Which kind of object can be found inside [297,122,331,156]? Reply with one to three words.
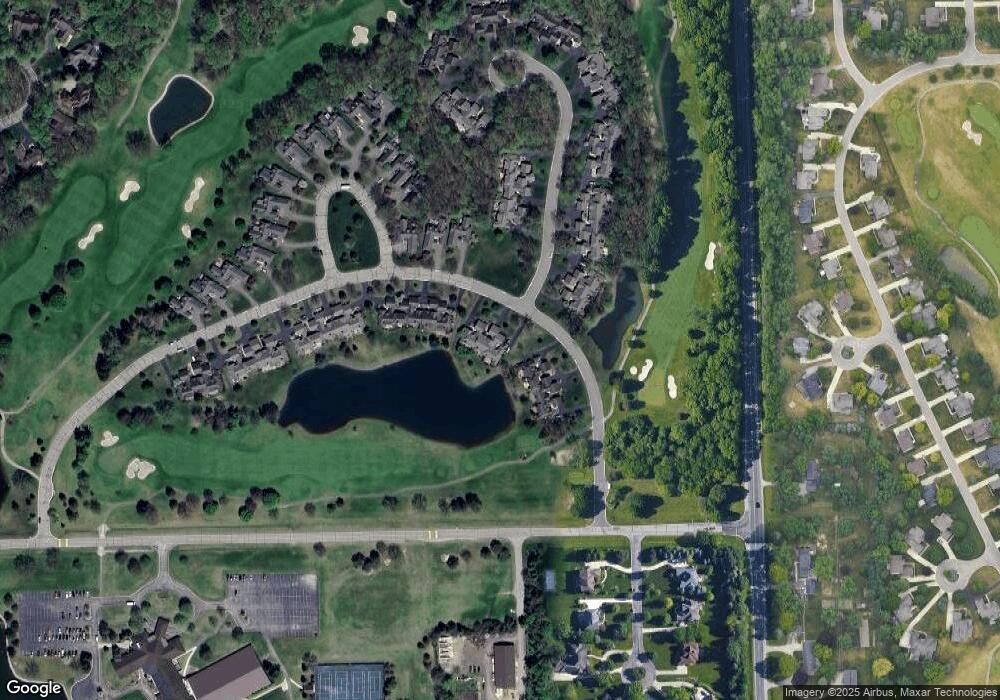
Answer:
house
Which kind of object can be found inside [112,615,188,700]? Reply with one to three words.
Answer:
building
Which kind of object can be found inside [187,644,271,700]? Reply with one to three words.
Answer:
building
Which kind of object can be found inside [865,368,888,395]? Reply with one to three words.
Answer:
house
